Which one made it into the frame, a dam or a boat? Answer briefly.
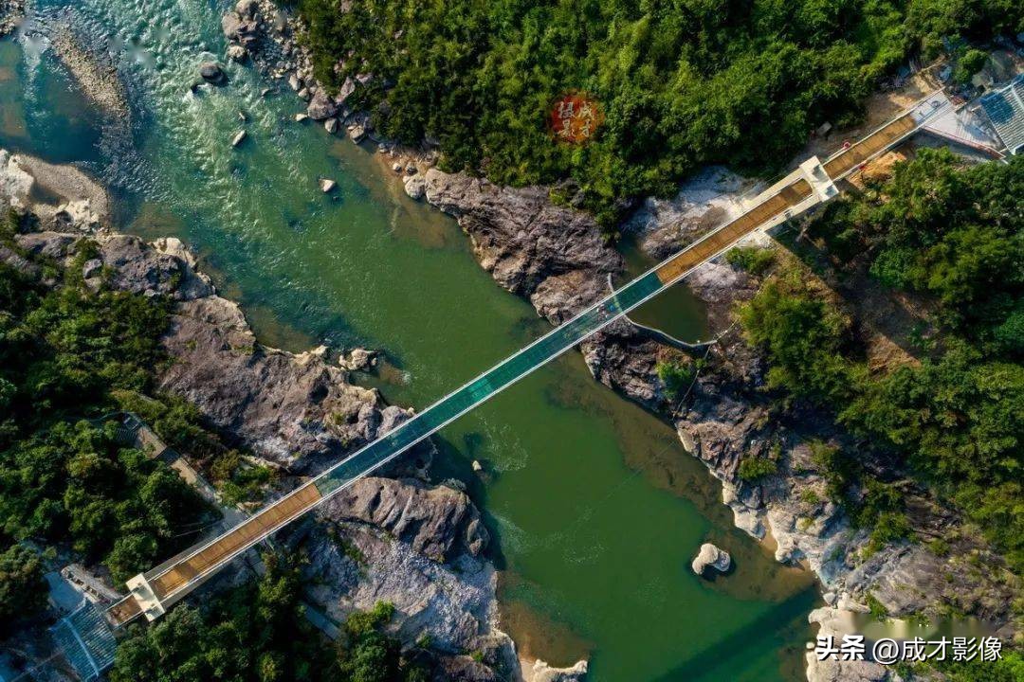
dam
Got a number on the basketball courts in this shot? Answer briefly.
0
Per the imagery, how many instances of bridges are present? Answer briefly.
1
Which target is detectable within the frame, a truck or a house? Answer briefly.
house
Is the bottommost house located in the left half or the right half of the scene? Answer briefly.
left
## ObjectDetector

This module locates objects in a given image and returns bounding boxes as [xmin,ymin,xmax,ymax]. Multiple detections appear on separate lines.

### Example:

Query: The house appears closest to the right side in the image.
[969,74,1024,163]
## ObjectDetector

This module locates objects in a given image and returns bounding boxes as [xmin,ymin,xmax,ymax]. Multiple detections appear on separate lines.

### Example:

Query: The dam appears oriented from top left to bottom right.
[607,272,719,347]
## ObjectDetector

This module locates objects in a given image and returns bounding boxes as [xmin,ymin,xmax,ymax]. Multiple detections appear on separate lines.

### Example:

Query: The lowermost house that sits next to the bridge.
[46,598,131,682]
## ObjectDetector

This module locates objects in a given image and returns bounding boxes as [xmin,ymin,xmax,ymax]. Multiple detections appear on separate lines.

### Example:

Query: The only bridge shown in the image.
[102,85,962,631]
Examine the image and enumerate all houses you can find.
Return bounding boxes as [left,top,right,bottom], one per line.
[46,598,131,682]
[969,74,1024,163]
